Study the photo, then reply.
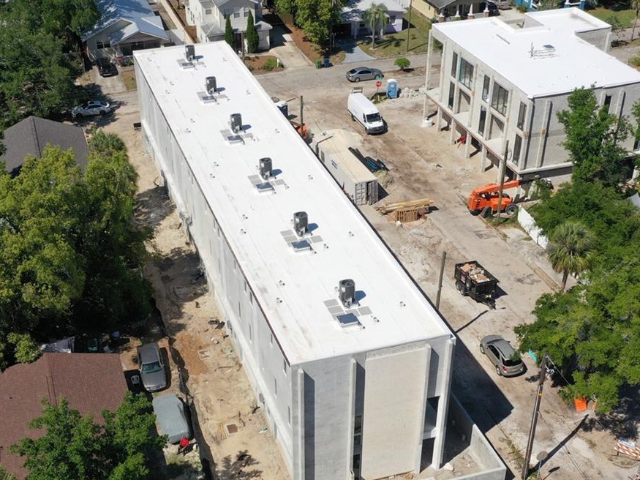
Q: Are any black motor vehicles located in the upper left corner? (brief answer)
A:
Yes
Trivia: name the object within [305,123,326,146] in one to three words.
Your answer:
work vehicle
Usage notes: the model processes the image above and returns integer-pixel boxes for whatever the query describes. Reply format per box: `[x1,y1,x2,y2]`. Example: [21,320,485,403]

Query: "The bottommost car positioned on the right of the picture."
[474,329,522,370]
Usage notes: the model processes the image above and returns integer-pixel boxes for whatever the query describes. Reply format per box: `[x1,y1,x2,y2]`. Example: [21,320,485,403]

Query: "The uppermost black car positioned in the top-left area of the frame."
[96,56,117,74]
